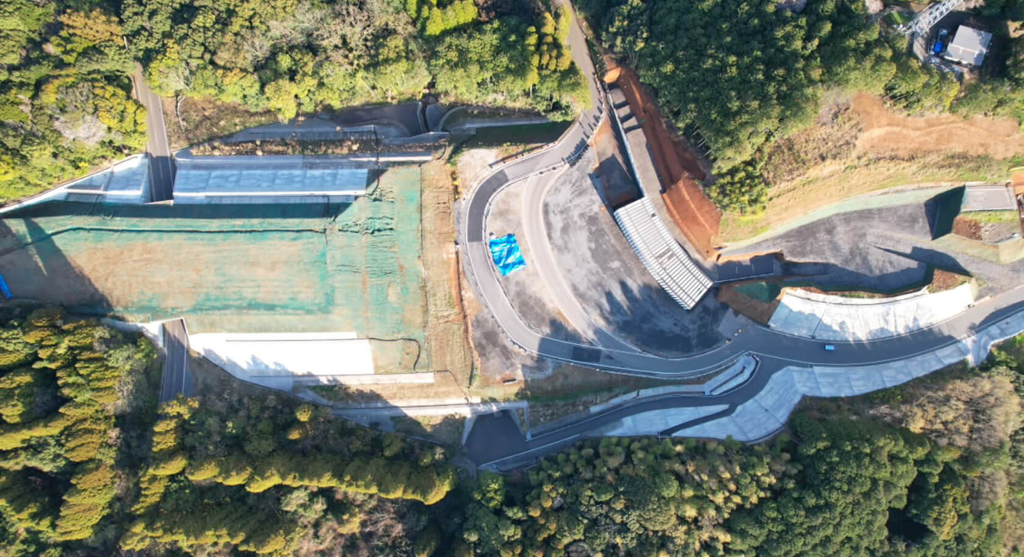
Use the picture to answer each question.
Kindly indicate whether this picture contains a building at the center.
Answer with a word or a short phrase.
No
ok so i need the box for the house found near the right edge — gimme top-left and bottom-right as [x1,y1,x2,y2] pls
[939,26,992,67]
